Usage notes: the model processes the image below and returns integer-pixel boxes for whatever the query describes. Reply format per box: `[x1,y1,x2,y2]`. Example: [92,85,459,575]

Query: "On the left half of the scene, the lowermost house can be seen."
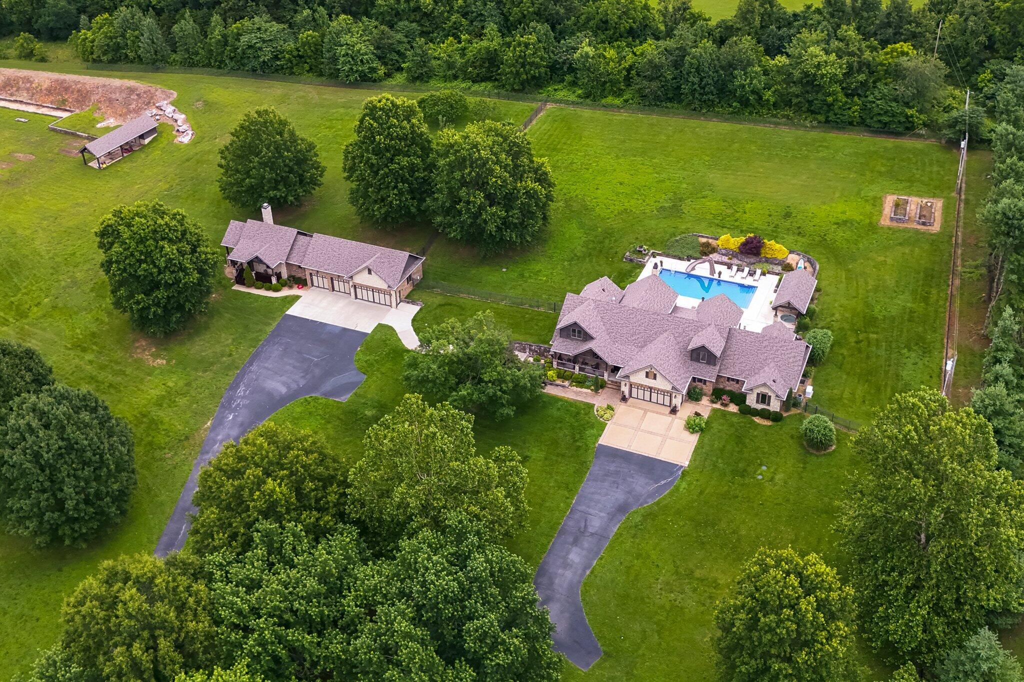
[220,198,426,308]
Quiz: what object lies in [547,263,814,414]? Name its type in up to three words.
house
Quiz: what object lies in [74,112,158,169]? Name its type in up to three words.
shed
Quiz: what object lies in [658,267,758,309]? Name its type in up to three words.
swimming pool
